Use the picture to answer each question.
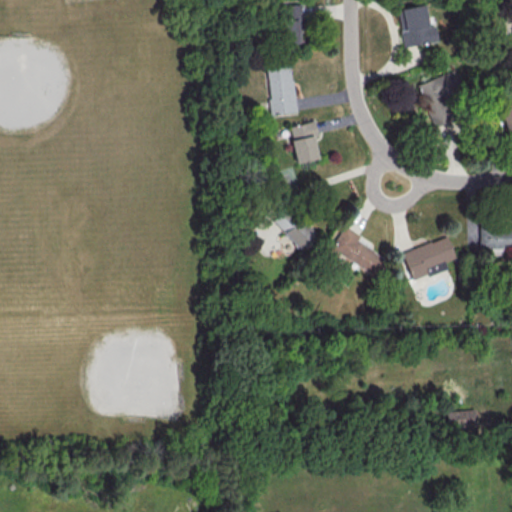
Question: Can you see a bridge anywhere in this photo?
No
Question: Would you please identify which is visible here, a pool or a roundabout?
pool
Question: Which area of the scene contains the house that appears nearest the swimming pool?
right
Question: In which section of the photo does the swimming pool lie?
right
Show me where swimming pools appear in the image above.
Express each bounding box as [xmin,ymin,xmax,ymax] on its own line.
[403,262,454,307]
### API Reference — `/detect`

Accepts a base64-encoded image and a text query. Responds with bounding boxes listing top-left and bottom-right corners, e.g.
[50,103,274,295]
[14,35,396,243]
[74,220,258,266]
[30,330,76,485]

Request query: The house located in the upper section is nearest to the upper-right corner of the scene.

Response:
[400,6,440,48]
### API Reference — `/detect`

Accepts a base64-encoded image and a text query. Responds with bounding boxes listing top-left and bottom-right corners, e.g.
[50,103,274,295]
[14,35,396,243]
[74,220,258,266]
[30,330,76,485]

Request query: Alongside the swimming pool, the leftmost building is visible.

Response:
[337,228,383,276]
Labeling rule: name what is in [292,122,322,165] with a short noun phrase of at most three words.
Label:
house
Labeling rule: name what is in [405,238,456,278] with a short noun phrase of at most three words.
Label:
house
